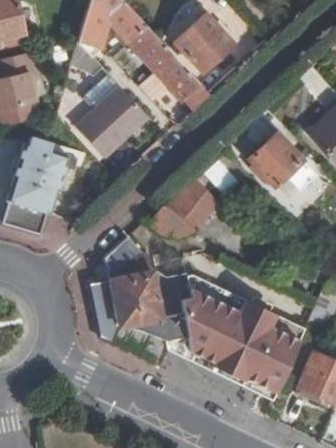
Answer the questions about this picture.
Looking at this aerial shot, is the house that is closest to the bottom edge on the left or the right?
right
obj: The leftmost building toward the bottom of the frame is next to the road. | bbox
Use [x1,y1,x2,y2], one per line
[90,236,184,344]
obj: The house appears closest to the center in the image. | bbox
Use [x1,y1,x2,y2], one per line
[152,180,216,240]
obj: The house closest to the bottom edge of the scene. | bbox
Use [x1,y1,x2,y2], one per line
[296,350,336,408]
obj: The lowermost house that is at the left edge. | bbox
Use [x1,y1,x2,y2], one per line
[8,136,68,214]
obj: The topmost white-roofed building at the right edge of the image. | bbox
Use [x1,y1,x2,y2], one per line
[301,68,332,101]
